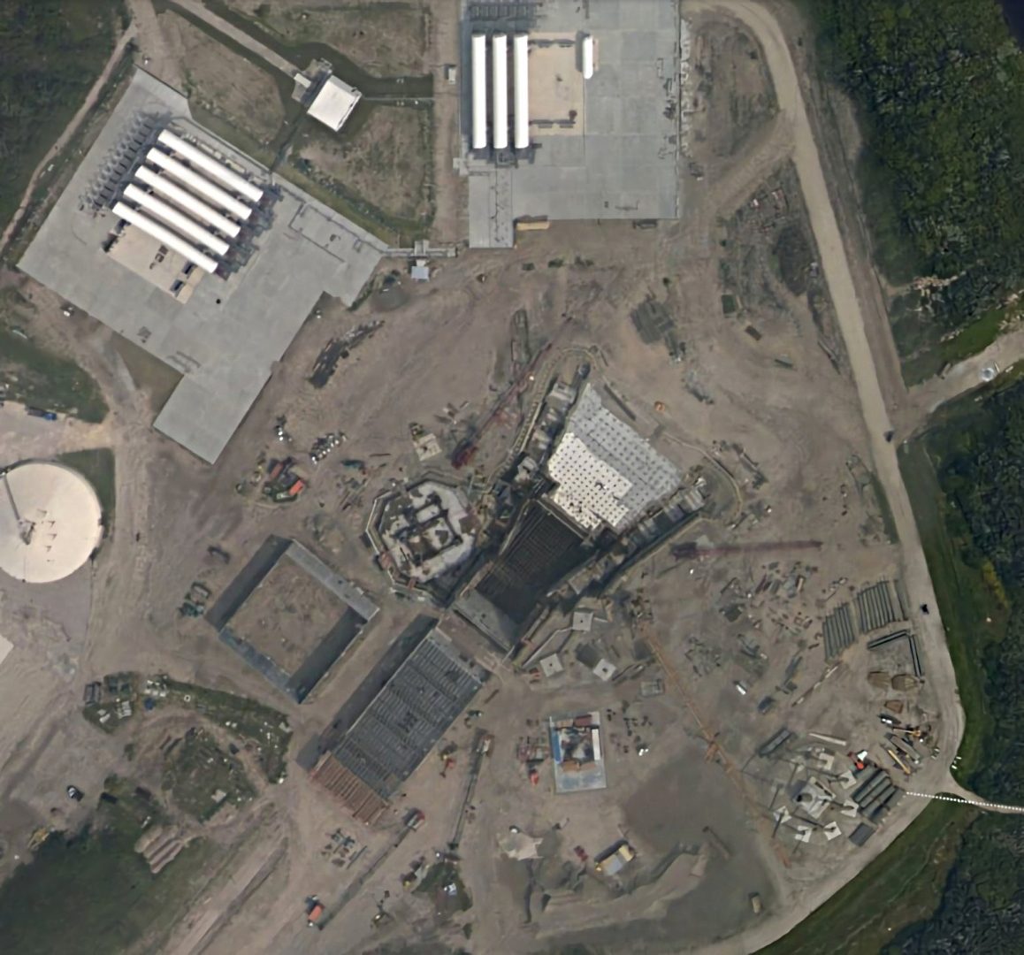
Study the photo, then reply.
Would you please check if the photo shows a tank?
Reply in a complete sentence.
Yes, there's a tank down there.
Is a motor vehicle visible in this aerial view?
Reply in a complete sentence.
Yes, there is a motor vehicle in the image.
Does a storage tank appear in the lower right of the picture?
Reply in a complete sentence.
No, no storage tank is visible in the lower right of the picture.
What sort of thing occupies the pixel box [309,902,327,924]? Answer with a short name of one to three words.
vehicle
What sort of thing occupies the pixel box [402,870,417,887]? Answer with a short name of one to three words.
work vehicle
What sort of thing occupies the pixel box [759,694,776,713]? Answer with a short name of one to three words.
vehicle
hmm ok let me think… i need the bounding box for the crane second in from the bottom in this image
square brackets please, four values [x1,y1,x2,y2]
[670,538,823,559]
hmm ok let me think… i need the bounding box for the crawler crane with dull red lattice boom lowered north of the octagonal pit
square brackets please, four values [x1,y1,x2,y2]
[449,315,572,469]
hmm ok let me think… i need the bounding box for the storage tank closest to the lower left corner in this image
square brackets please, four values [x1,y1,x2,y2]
[0,458,106,590]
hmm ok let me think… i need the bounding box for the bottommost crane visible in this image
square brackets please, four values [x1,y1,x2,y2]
[640,619,724,763]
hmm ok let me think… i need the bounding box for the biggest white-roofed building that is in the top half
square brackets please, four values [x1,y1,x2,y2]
[309,75,362,132]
